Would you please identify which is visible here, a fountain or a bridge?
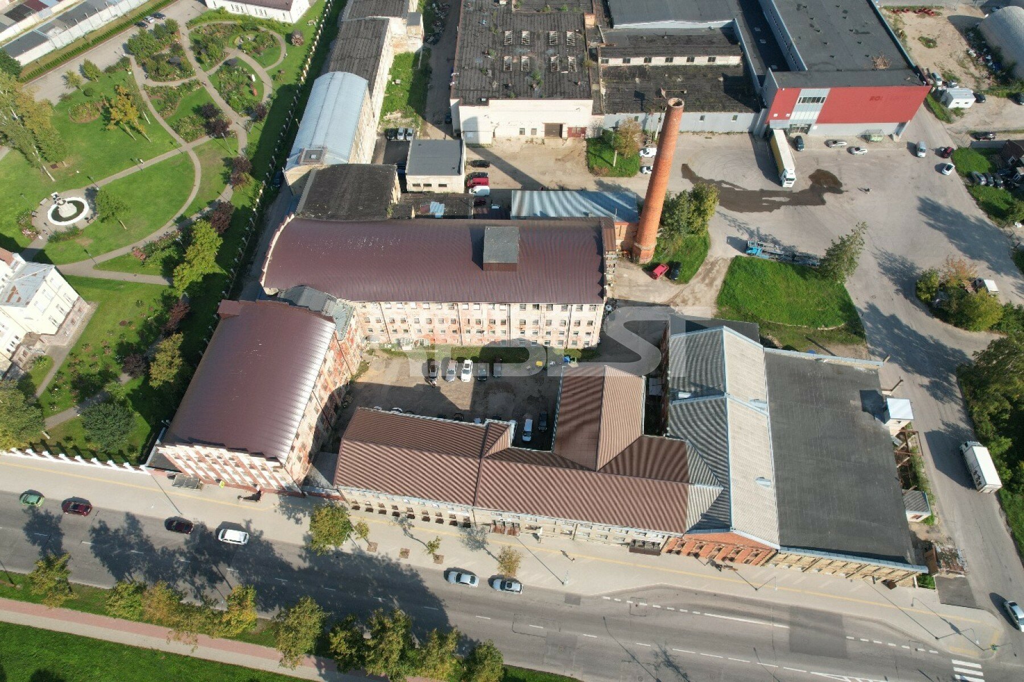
fountain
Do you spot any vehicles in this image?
Yes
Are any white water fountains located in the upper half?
Yes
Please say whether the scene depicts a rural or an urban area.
urban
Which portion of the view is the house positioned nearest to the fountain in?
left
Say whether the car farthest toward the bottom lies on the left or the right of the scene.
right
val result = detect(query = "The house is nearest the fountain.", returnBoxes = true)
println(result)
[0,261,91,346]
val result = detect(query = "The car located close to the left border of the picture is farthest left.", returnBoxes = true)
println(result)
[17,491,49,508]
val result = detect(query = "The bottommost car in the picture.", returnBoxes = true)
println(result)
[1000,598,1024,634]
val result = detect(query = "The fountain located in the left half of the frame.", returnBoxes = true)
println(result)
[43,194,90,225]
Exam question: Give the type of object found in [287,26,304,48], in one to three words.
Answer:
gazebo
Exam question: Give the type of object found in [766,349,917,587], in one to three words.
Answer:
building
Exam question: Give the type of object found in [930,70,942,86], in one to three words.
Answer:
vehicle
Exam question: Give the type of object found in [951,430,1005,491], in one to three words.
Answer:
truck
